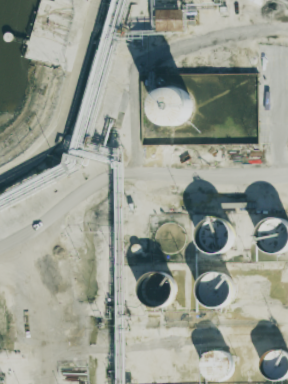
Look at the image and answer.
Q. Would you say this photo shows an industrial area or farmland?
industrial area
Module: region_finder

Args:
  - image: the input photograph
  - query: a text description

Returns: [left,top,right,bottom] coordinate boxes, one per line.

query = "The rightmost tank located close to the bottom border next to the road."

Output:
[260,348,288,382]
